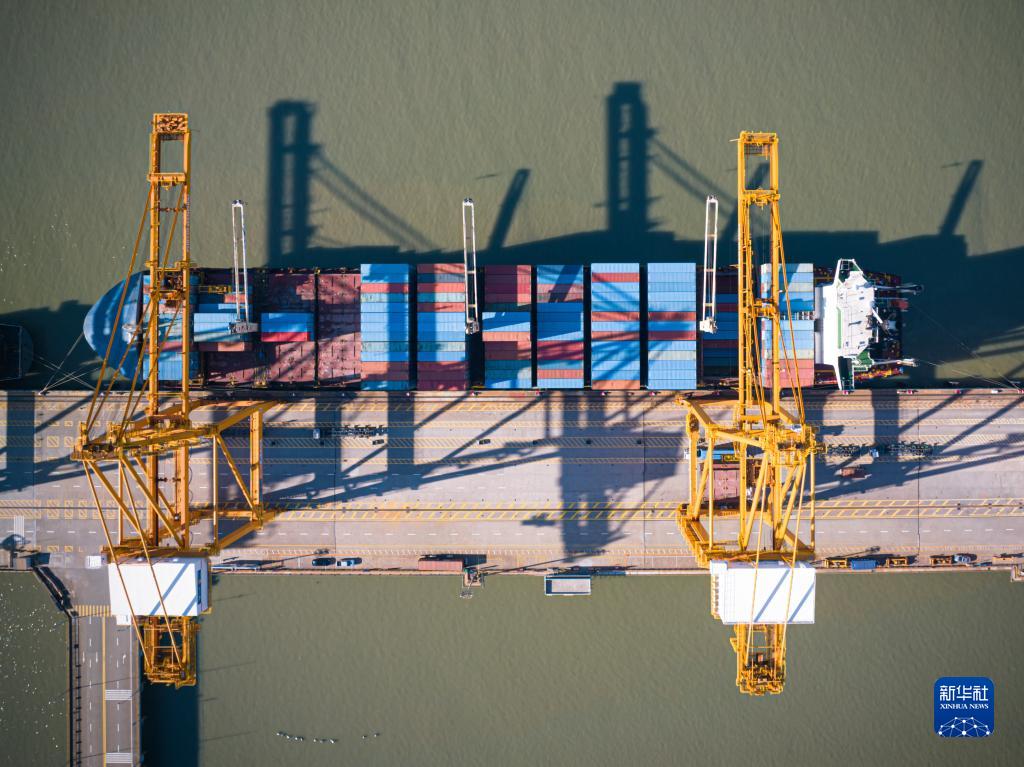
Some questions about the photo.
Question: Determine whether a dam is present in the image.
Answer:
No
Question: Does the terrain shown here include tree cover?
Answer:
No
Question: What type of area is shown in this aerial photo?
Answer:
port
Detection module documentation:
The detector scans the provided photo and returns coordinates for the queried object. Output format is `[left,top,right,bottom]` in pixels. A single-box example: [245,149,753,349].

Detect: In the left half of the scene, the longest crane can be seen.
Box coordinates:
[69,112,290,687]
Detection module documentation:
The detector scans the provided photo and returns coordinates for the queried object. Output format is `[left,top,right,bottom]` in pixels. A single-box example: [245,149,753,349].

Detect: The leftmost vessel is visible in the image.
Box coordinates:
[0,322,46,382]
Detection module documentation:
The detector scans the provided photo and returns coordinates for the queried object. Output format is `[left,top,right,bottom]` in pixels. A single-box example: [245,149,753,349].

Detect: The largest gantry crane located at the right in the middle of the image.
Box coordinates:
[670,131,830,695]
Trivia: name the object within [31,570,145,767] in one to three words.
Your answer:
pier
